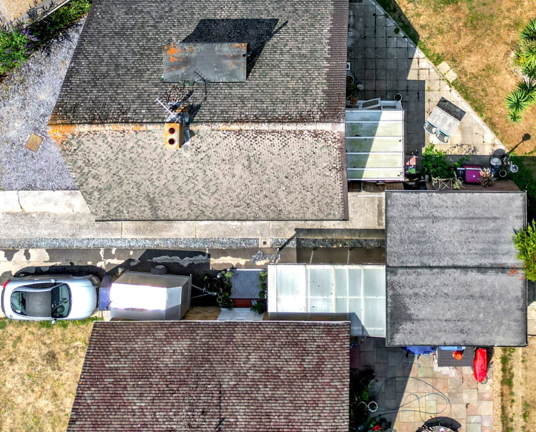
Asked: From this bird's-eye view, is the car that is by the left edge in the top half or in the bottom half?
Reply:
bottom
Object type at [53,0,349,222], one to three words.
house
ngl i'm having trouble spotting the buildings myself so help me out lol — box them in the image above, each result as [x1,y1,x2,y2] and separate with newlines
[386,179,527,347]
[67,302,350,432]
[53,0,349,222]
